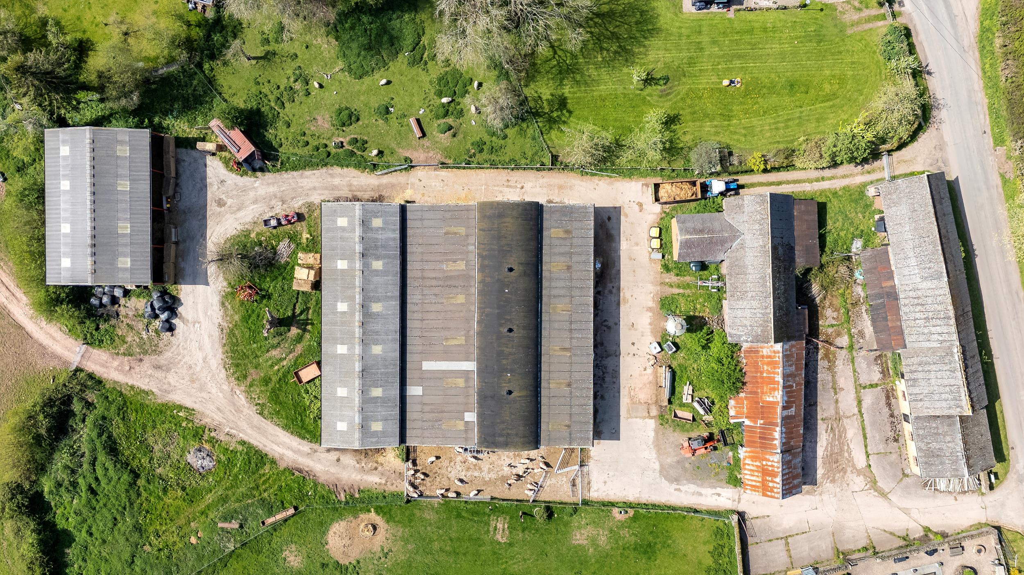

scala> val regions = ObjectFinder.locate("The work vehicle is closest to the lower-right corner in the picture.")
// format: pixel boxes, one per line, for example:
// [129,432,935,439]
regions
[675,432,728,460]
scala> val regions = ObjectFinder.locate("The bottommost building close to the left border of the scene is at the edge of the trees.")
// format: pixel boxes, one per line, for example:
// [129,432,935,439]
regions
[43,125,168,287]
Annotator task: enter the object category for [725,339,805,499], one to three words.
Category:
barn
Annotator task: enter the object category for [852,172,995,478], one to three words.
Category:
building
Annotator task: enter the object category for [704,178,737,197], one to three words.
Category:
work vehicle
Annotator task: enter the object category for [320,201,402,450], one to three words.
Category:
shed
